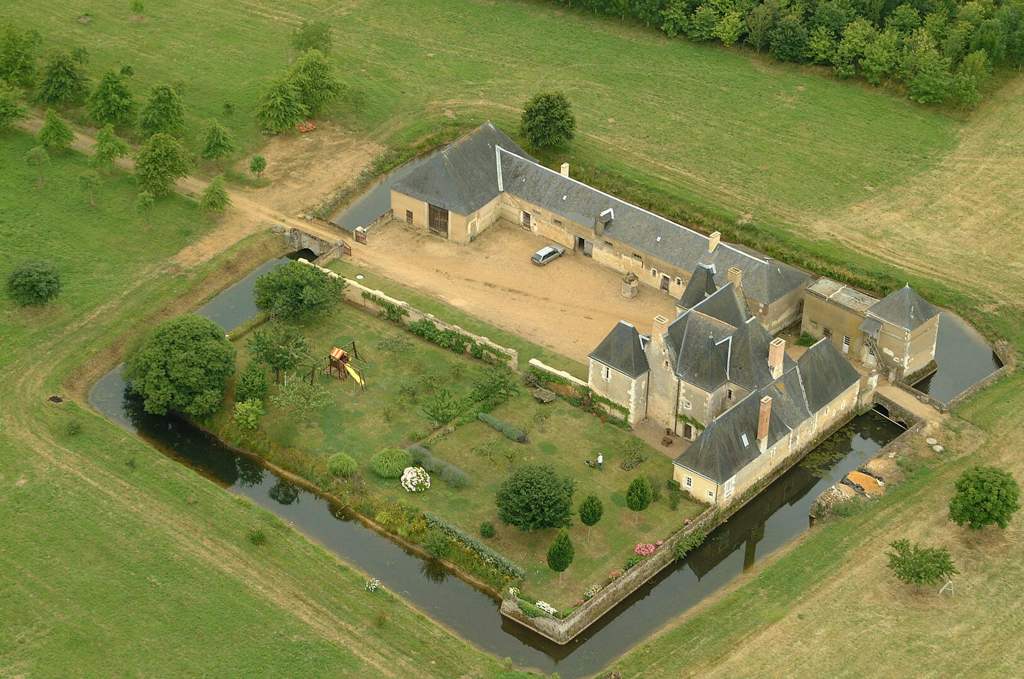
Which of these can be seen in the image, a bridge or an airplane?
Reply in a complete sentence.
I can see a bridge in this picture.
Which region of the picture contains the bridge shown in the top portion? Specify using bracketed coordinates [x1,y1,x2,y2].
[275,215,364,258]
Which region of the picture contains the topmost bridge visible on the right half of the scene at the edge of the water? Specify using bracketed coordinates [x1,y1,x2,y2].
[865,380,946,428]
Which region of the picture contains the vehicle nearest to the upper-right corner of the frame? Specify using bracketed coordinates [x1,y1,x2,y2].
[531,244,566,265]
